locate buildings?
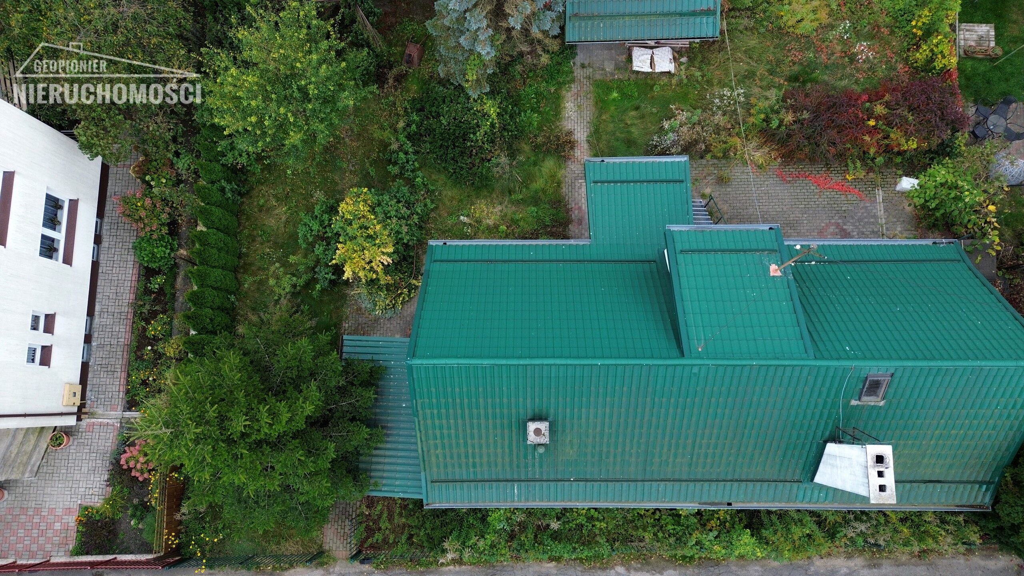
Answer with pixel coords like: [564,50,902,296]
[567,0,722,45]
[0,100,108,428]
[405,155,1024,510]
